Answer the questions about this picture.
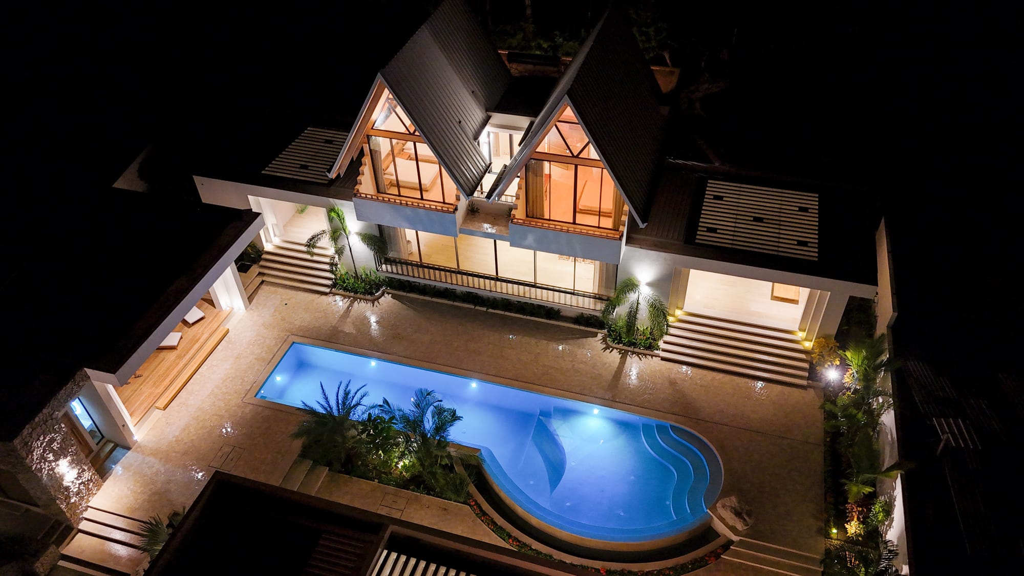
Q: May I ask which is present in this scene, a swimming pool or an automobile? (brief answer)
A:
swimming pool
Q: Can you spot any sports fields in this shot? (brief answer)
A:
No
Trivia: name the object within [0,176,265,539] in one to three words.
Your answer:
building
